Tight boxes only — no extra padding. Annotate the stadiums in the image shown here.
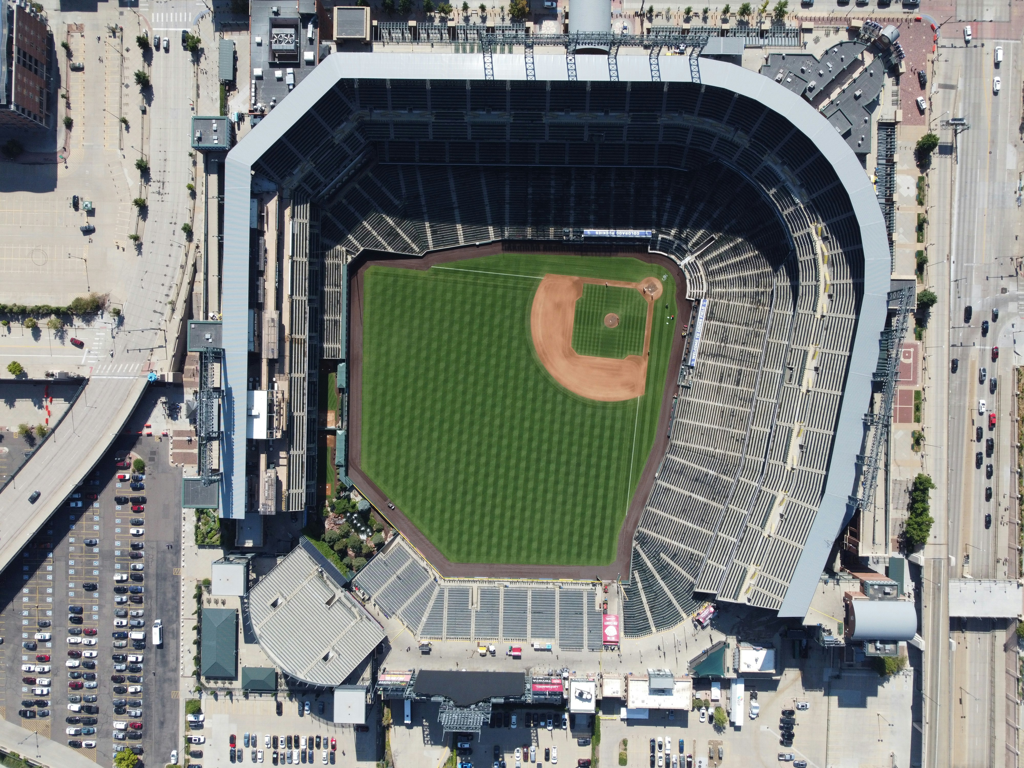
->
[219,52,891,638]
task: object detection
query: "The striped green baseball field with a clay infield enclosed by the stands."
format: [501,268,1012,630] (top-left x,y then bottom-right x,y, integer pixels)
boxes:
[344,238,700,581]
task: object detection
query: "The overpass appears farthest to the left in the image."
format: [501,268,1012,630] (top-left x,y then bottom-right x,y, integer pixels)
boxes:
[0,381,150,572]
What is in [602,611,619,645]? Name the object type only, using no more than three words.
vehicle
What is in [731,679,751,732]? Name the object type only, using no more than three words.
trailer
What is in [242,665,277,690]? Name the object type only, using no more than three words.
building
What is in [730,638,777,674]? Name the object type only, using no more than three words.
building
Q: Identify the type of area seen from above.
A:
sports ground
